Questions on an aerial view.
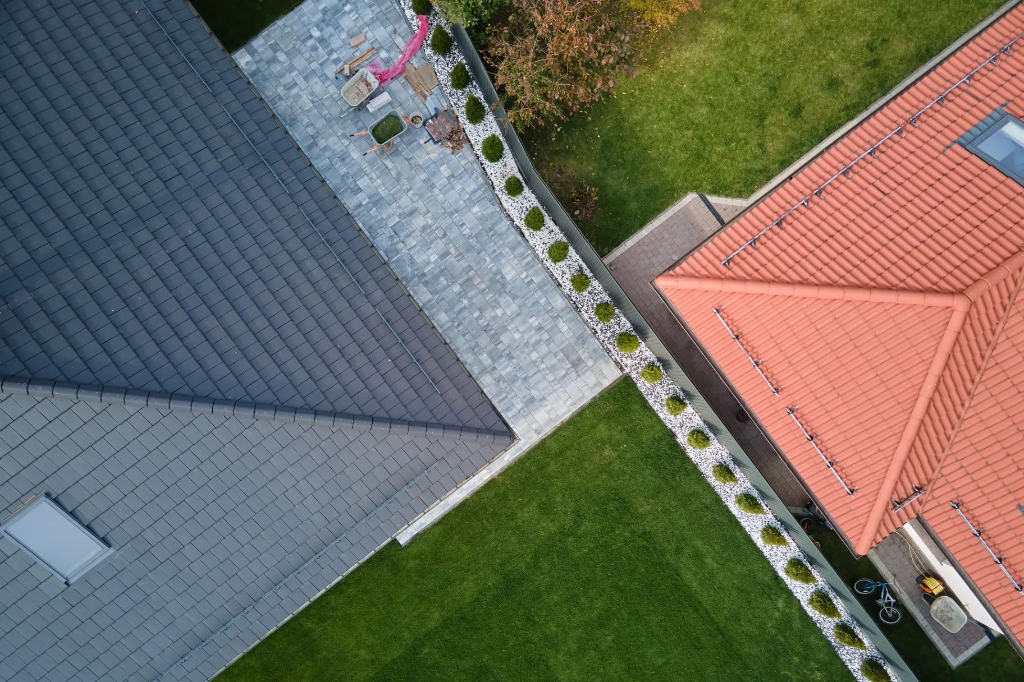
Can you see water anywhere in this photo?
No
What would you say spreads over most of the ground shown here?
buildings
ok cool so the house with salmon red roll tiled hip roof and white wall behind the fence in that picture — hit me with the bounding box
[646,0,1024,663]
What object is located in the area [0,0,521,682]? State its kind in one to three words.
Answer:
house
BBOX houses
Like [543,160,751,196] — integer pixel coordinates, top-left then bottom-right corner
[646,0,1024,663]
[0,0,521,682]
